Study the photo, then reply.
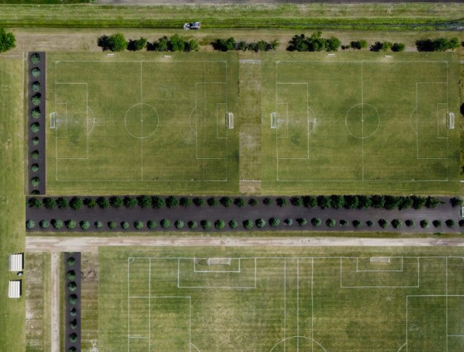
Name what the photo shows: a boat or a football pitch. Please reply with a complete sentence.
There is a football pitch in the scene.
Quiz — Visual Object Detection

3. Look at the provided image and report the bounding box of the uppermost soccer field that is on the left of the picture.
[47,52,238,195]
